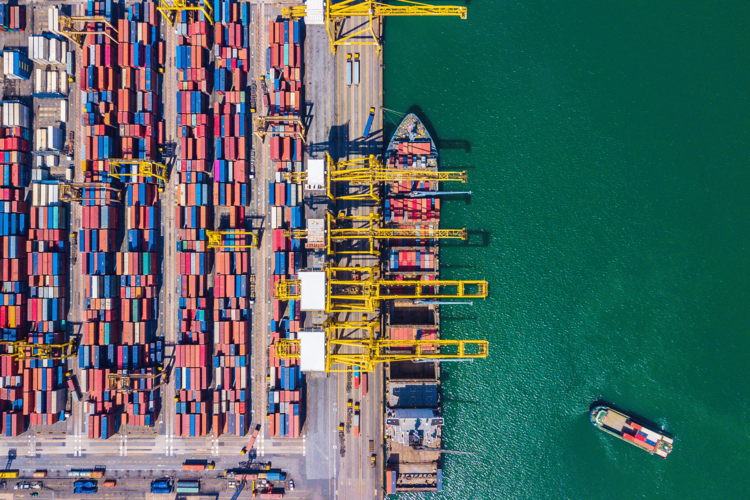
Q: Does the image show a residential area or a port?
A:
port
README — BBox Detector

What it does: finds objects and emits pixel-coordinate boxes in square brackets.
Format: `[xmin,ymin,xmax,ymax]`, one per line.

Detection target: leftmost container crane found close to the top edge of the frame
[58,16,119,51]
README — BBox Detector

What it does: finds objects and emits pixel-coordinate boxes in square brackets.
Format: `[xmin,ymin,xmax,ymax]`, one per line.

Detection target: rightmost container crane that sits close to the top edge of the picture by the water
[281,0,469,61]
